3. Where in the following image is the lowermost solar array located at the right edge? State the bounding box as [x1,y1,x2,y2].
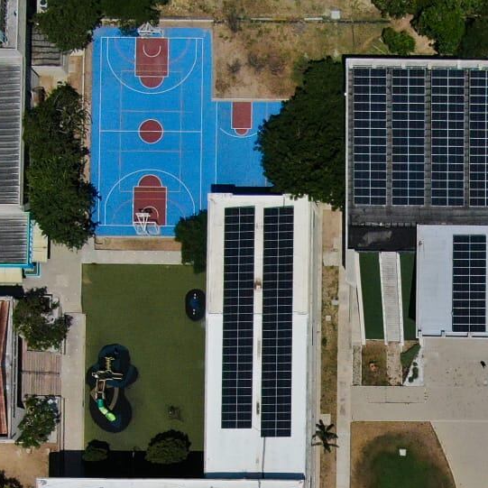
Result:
[452,234,486,331]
